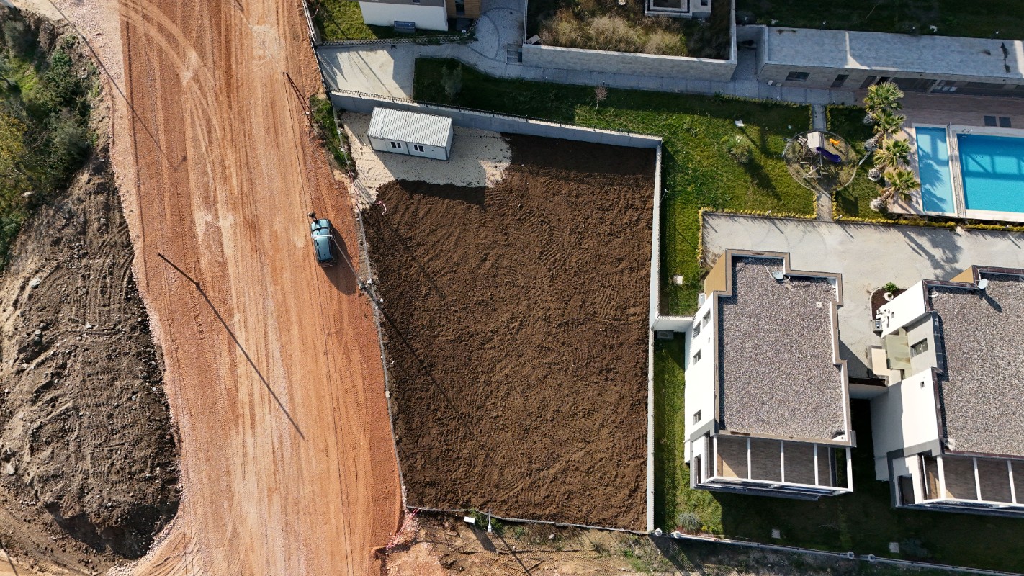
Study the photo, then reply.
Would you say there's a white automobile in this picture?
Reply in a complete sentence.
No, there appears to be no white automobile in this shot.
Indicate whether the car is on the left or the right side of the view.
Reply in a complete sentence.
It is on the left.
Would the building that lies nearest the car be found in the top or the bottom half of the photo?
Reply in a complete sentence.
You can find the building that lies nearest the car in the top half.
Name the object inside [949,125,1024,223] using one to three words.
swimming pool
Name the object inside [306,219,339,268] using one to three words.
car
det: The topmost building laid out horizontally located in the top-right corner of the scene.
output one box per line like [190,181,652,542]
[756,26,1024,98]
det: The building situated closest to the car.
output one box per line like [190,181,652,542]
[367,105,453,160]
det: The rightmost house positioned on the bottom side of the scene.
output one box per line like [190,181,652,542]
[865,265,1024,517]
